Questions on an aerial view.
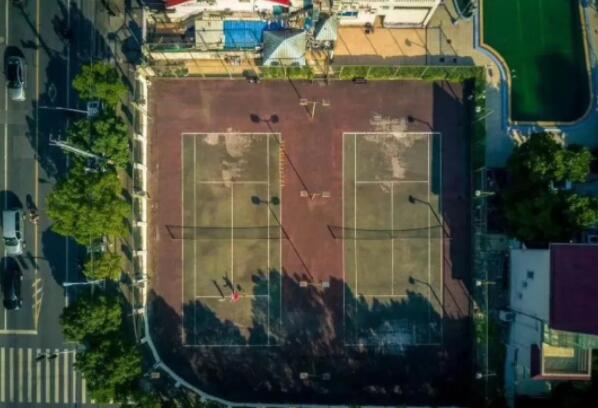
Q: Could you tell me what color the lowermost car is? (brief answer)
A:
black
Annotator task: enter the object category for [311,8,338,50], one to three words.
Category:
building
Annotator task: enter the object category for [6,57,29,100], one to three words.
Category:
car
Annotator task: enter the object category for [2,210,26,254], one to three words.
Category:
car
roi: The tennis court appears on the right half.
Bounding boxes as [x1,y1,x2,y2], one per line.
[343,132,442,346]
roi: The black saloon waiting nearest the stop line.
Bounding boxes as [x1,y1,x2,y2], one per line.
[1,261,24,305]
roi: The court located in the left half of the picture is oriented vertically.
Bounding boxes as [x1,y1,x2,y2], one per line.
[182,132,281,346]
